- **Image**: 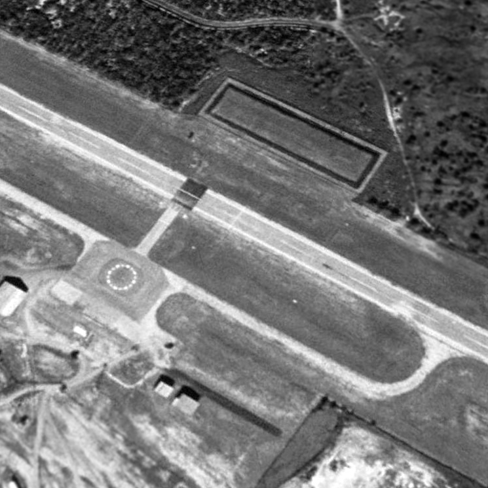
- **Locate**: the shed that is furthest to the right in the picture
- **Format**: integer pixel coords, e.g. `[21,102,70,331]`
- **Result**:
[172,394,200,417]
